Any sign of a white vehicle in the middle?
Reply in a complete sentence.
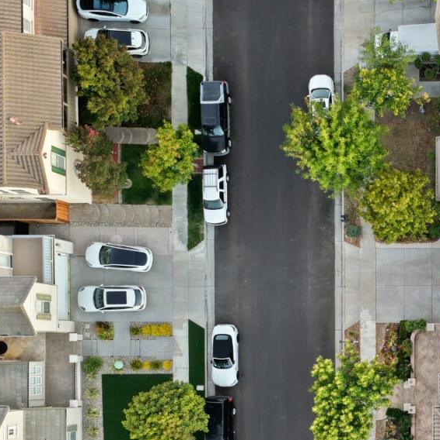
Yes, a white vehicle appears in the middle.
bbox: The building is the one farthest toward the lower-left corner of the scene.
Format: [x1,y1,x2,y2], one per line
[0,235,95,440]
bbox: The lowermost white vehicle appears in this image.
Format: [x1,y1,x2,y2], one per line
[207,323,241,388]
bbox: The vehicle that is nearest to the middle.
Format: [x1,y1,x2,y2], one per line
[197,165,233,227]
